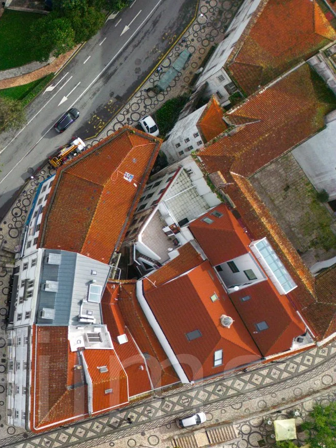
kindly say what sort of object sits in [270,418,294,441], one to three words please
umbrella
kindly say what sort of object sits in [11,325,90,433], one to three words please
house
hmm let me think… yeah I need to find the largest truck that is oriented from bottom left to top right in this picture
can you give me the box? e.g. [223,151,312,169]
[47,135,88,170]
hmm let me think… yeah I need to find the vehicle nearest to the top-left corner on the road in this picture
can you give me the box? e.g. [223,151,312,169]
[52,107,78,135]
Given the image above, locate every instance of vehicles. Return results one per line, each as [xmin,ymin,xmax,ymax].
[176,412,205,429]
[138,112,158,137]
[47,135,88,170]
[52,107,78,135]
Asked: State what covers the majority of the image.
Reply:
buildings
